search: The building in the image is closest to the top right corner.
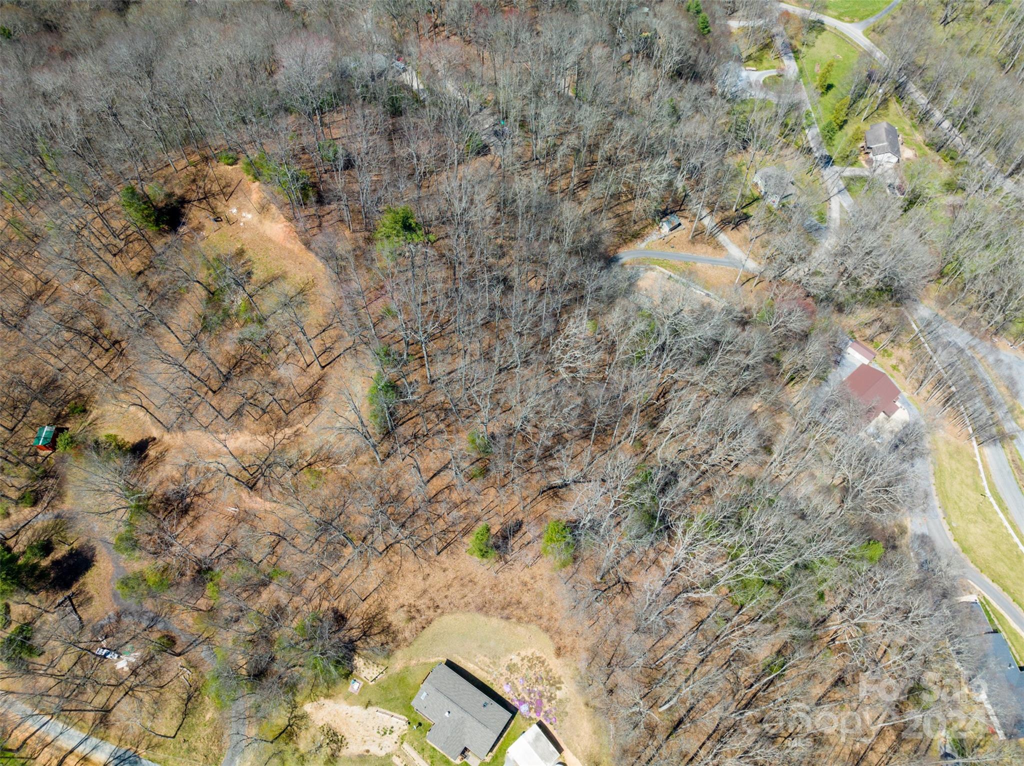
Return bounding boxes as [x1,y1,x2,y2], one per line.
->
[859,120,902,170]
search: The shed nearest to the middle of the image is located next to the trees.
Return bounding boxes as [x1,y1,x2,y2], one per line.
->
[660,214,683,236]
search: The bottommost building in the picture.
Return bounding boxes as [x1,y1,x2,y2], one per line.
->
[507,724,560,766]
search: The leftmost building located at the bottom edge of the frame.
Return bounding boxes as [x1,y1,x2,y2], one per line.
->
[411,662,512,765]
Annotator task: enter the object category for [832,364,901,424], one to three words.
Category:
house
